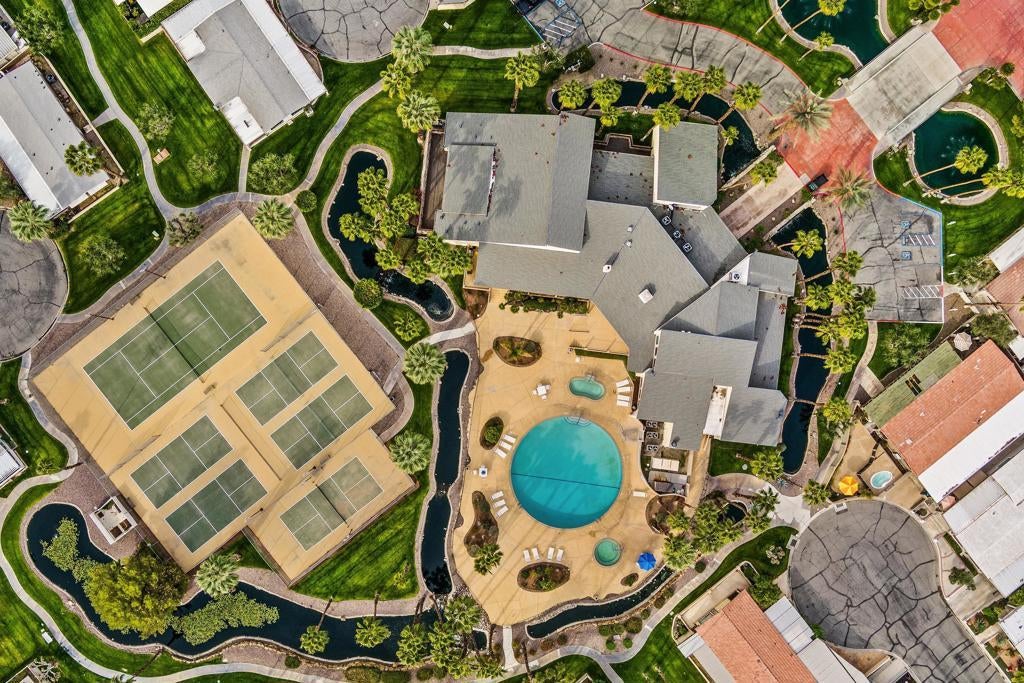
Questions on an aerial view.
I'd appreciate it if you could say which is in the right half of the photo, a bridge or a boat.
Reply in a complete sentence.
You can see a bridge in the right half of the photo.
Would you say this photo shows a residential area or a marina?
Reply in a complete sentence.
The picture captures a residential area.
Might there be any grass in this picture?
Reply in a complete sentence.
Yes, grass can be seen from above here.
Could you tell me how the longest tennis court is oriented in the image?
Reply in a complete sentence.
The longest tennis court runs on a diagonal in the image.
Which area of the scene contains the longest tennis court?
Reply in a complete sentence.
Look in the left portion of the view to spot the longest tennis court.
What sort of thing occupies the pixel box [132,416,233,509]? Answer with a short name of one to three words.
sports court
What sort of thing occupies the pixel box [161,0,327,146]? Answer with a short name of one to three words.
house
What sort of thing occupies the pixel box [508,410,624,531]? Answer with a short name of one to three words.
swimming pool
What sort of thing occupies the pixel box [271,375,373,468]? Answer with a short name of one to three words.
sports court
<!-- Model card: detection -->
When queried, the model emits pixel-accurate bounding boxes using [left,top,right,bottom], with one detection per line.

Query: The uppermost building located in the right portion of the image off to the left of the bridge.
[435,112,797,450]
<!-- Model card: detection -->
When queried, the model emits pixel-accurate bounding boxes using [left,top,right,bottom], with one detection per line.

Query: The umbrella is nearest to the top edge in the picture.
[948,333,967,349]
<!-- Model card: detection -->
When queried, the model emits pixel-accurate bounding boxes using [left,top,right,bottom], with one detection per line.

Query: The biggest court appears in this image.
[84,261,267,430]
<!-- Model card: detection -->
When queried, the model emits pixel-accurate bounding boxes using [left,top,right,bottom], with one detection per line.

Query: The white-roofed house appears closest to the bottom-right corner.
[996,604,1024,655]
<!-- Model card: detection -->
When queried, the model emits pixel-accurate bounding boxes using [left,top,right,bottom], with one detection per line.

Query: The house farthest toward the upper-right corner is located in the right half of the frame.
[979,228,1024,334]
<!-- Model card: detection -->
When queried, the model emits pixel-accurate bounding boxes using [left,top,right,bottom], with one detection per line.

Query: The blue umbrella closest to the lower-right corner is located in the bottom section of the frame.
[637,550,655,569]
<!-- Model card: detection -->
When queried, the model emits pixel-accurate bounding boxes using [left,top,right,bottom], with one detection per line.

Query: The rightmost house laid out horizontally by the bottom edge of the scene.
[677,589,870,683]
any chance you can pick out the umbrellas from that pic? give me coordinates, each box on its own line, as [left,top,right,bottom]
[836,475,855,494]
[948,333,967,349]
[637,550,655,569]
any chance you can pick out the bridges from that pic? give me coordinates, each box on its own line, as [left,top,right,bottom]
[836,17,984,154]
